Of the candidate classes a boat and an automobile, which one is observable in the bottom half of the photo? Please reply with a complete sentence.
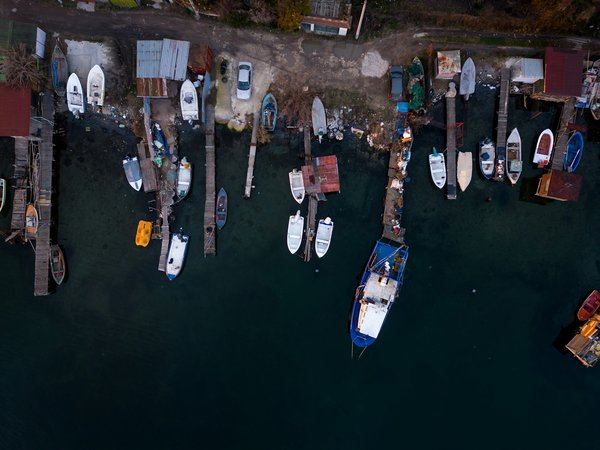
Looking in the bottom half of the photo, you will find a boat.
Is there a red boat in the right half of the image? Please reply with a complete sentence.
Yes, I can see a red boat in the right half of the image.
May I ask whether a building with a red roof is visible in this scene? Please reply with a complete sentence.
Yes, a building with a red roof appears in the view.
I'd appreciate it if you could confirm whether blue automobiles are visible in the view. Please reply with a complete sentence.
Yes, there's a blue automobile down there.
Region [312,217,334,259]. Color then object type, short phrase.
white boat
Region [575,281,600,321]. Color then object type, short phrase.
red boat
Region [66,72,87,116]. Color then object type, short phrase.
white boat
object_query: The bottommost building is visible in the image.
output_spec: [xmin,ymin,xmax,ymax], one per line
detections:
[527,169,582,203]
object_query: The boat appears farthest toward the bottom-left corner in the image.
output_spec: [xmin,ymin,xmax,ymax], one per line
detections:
[49,244,65,286]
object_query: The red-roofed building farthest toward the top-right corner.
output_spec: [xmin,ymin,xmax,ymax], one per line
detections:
[543,47,583,97]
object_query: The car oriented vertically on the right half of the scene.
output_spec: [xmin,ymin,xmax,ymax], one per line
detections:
[388,66,405,100]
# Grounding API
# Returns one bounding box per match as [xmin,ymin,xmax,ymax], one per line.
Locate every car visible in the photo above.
[388,66,405,100]
[234,62,251,100]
